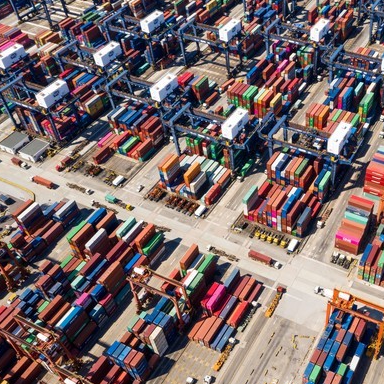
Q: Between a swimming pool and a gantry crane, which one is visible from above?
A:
gantry crane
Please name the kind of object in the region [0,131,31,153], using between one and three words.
building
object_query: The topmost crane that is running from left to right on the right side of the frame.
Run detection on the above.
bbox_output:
[225,0,291,28]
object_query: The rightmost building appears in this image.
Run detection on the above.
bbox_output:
[18,138,52,161]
